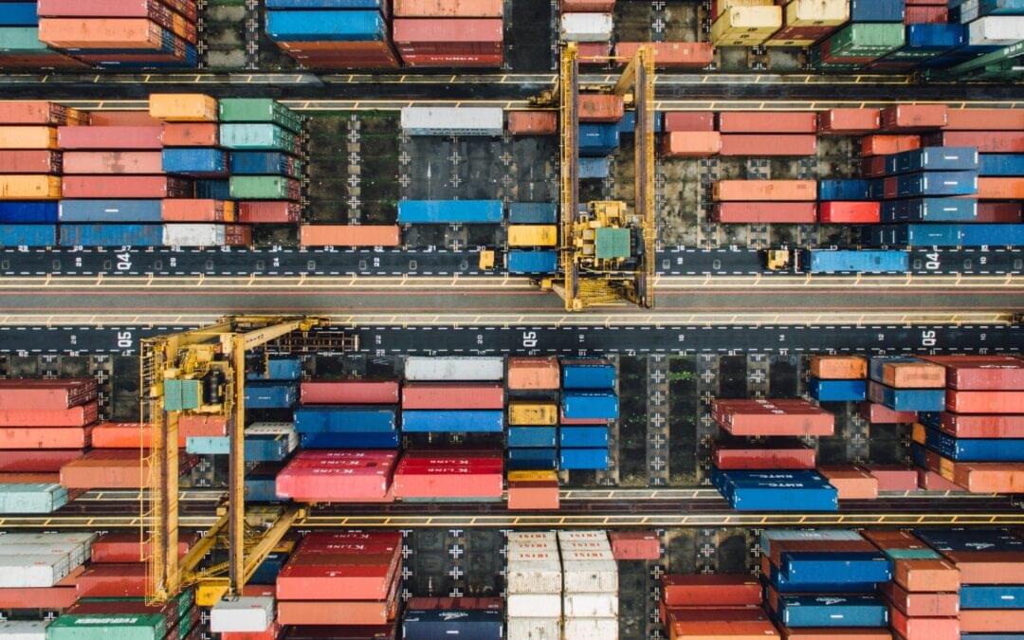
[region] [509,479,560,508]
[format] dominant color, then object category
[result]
red shipping container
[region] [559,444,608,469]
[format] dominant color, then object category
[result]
blue shipping container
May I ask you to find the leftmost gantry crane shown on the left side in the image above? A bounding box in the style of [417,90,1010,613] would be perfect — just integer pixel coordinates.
[141,311,329,608]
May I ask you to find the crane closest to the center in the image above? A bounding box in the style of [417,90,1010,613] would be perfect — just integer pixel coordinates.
[528,42,660,310]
